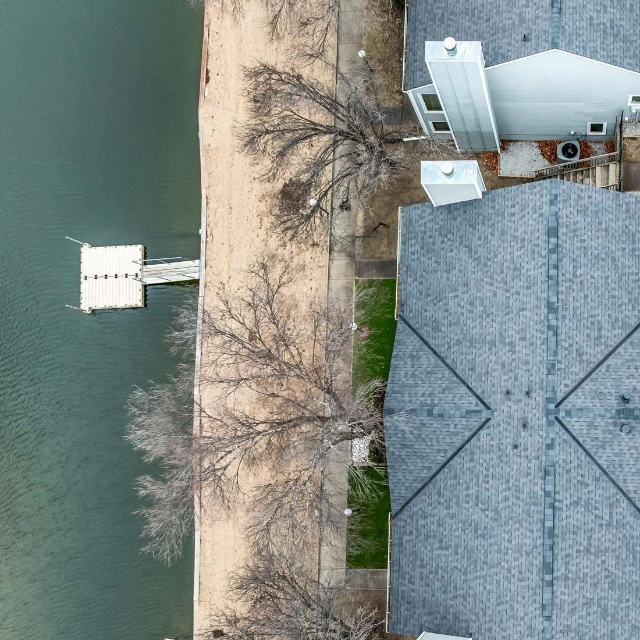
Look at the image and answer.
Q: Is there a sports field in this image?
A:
No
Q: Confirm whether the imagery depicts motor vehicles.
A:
No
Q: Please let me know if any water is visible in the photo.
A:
Yes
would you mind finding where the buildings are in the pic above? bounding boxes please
[403,0,640,154]
[383,154,640,640]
